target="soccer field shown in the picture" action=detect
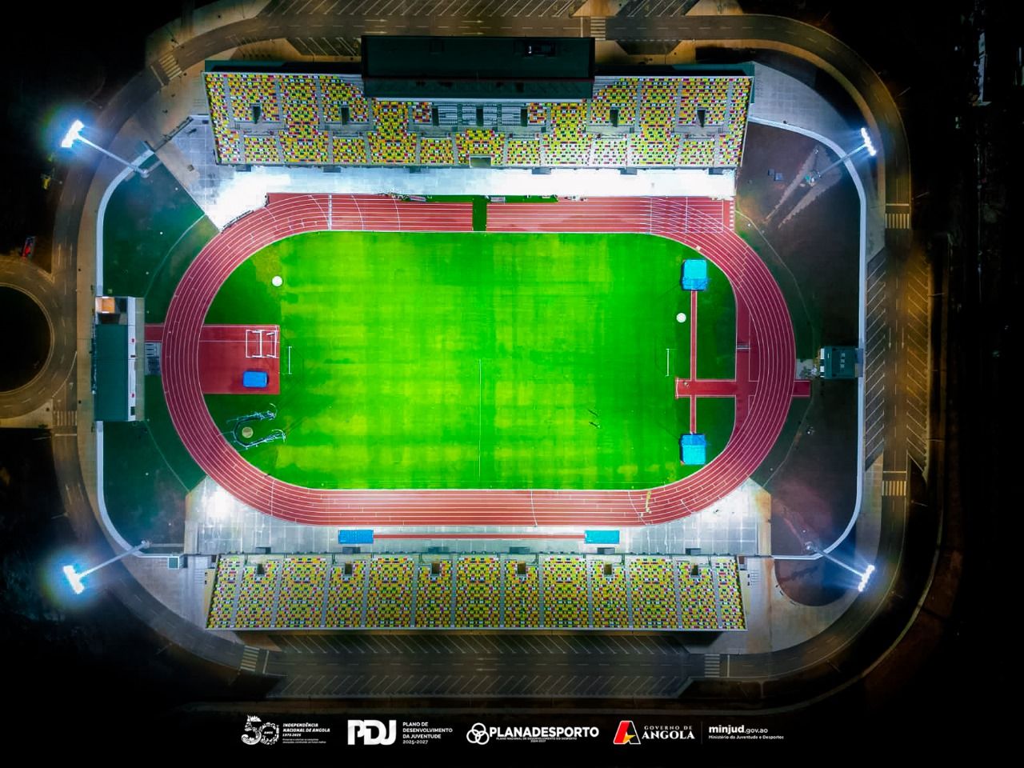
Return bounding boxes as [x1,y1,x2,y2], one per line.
[204,231,736,489]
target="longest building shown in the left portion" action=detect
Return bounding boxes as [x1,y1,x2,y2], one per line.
[93,298,144,421]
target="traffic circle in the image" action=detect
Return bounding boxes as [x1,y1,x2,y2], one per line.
[0,257,76,418]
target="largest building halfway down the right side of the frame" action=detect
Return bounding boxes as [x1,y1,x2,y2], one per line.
[818,346,859,379]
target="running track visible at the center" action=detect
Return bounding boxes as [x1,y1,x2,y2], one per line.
[162,194,795,526]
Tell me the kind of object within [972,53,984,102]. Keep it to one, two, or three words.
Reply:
shed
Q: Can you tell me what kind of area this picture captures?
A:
sports ground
